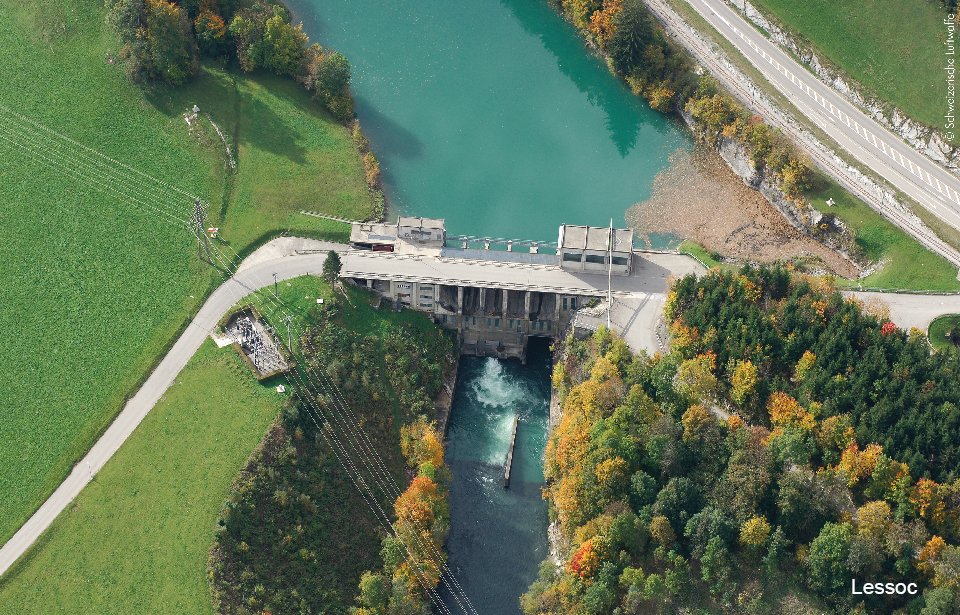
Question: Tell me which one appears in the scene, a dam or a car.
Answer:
dam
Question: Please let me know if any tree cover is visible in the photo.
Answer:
Yes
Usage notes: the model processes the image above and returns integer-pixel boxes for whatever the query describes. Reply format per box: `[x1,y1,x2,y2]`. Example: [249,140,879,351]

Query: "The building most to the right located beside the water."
[559,223,634,276]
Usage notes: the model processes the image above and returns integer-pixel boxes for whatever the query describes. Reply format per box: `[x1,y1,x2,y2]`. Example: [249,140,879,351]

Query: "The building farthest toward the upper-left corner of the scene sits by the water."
[350,225,399,252]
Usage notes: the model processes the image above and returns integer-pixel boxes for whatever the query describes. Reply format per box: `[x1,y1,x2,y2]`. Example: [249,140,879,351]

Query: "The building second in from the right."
[398,217,448,248]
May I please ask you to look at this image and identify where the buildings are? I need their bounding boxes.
[350,225,399,252]
[398,217,448,248]
[559,223,634,276]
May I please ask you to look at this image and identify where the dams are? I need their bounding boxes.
[335,230,634,368]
